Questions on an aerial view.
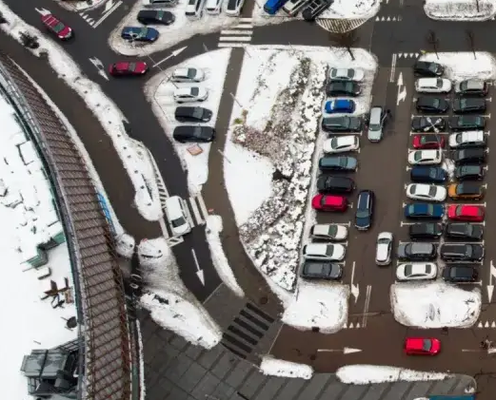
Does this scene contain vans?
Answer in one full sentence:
Yes, there is a van in the image.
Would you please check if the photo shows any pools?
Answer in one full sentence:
No, I can see no pool in this picture.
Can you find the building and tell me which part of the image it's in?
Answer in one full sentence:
The building sits in the left section of the image.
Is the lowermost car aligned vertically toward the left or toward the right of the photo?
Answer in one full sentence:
It is on the right.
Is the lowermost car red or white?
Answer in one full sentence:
In this view, the lowermost car is red.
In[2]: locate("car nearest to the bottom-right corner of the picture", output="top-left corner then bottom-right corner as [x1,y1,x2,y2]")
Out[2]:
[403,336,442,356]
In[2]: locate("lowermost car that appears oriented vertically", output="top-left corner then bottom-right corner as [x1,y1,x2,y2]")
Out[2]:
[375,228,395,269]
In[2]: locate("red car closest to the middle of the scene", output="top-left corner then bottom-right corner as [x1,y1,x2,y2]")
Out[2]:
[313,193,347,211]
